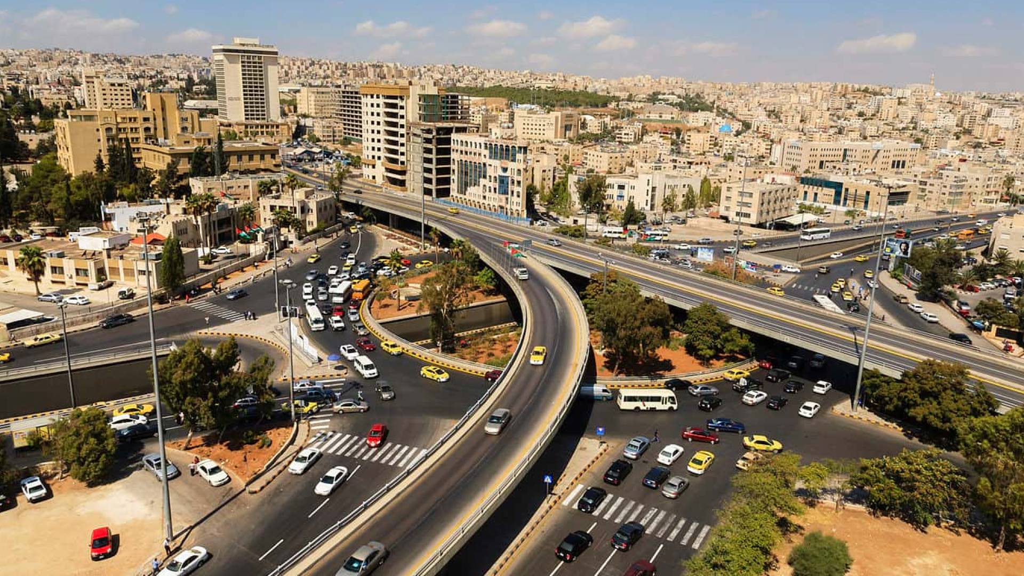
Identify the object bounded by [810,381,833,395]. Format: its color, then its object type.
white car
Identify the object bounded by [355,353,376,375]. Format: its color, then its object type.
white vehicle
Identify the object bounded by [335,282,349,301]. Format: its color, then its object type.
white vehicle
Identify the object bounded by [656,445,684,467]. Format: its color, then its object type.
white car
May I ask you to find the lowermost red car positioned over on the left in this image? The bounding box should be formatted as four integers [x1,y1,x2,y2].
[88,527,114,562]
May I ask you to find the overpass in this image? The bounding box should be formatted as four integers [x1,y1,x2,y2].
[293,181,1024,425]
